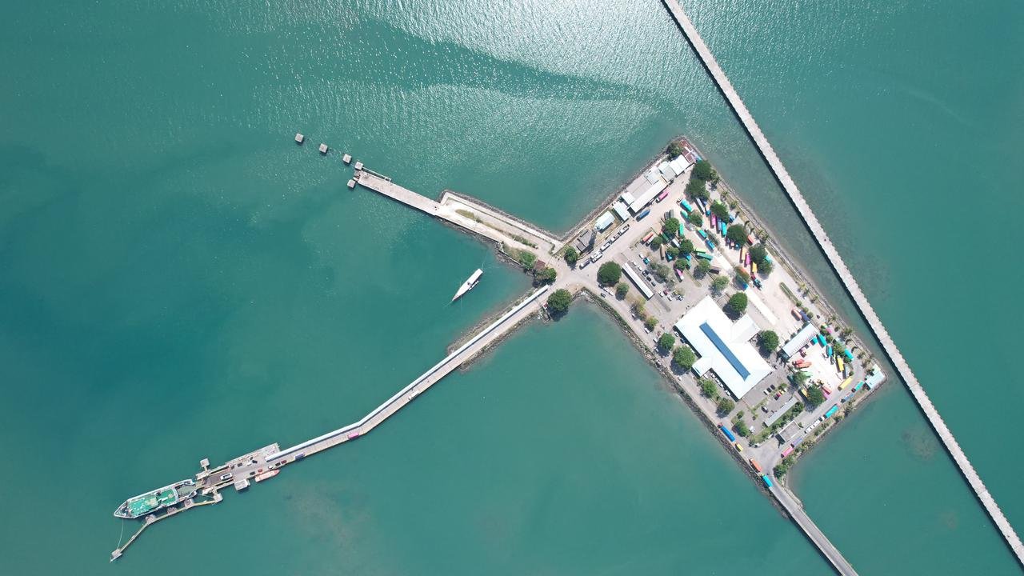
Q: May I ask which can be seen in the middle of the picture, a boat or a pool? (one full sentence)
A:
You can see a boat in the middle of the picture.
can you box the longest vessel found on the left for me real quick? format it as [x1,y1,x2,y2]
[115,478,199,518]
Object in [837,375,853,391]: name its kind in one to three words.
vehicle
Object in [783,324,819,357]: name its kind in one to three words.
shed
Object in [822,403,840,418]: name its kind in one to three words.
vehicle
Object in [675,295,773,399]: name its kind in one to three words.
building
